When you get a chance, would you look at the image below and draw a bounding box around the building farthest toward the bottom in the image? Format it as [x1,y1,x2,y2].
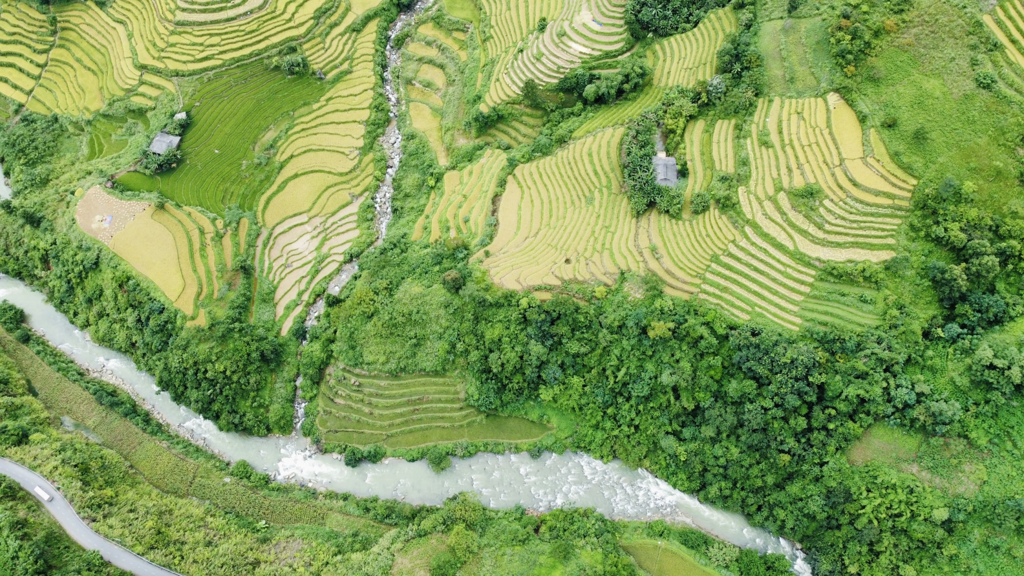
[654,158,681,184]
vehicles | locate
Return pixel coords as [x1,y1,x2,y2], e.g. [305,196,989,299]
[33,486,52,504]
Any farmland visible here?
Yes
